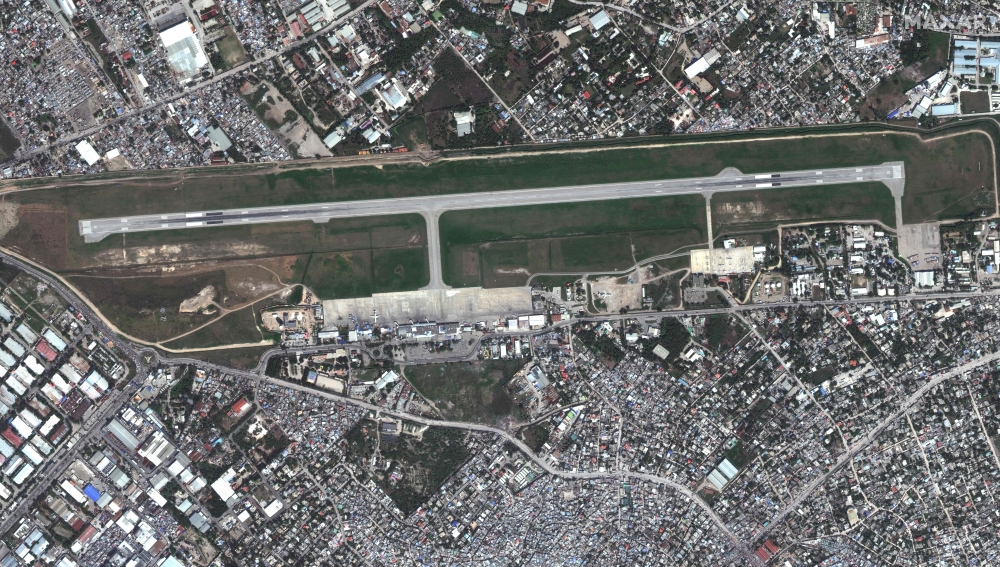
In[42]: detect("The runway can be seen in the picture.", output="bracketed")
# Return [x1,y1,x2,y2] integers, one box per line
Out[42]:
[79,161,904,243]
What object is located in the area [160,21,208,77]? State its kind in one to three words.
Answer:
building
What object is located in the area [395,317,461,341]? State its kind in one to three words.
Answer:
building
